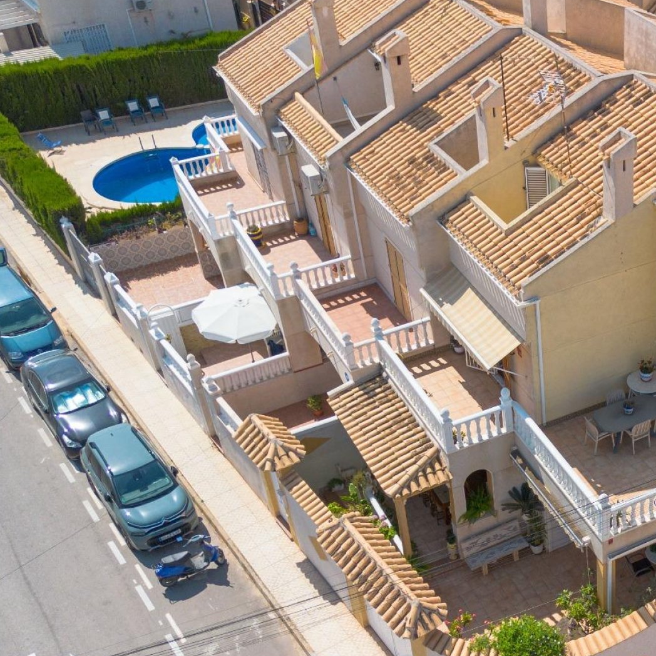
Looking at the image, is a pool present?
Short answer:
Yes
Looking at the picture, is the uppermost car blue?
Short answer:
Yes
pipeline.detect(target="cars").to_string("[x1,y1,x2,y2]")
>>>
[25,351,133,464]
[0,273,76,386]
[83,426,208,561]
